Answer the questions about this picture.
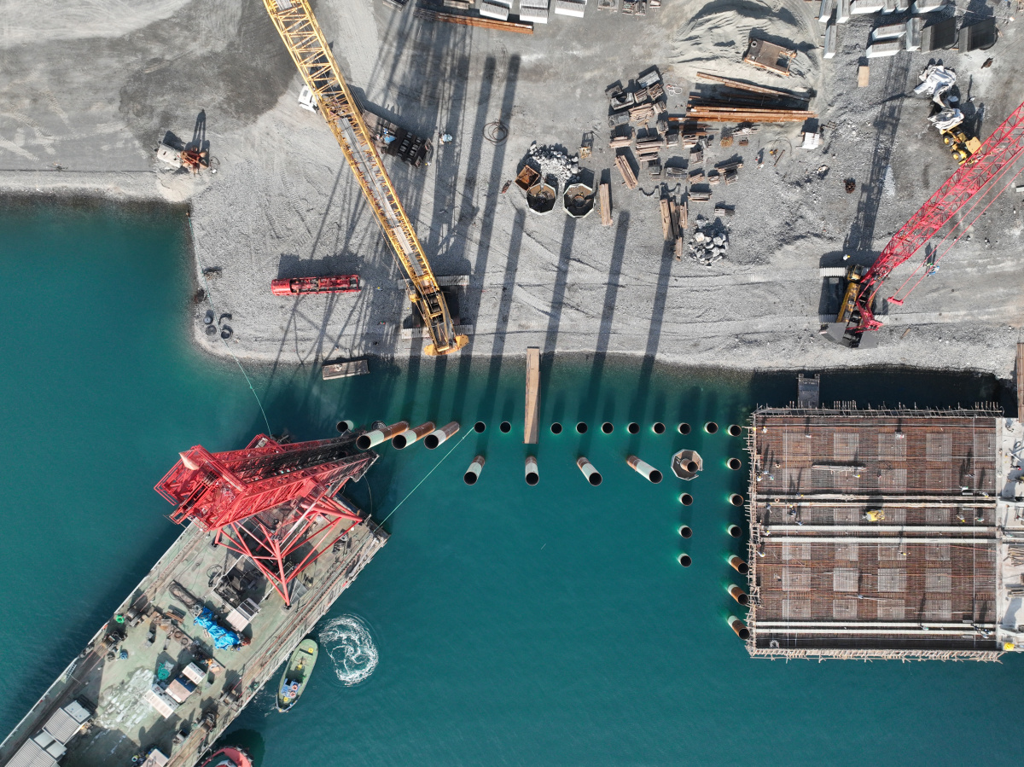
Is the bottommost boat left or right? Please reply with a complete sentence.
The bottommost boat is on the left side of the image.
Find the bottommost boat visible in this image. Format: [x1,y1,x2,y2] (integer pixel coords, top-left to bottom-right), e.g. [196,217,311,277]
[201,738,254,767]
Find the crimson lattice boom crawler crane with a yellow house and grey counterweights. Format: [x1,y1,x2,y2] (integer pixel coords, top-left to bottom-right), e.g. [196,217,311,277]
[819,87,1024,355]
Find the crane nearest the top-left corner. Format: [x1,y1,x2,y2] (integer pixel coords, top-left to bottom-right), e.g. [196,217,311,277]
[270,0,473,363]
